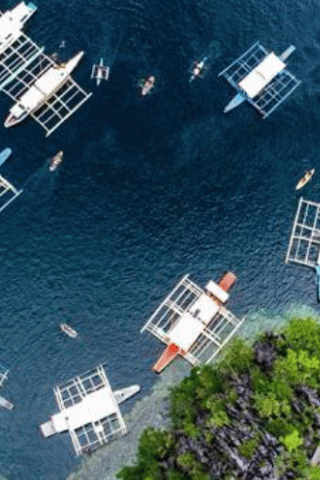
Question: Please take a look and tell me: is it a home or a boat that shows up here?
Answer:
boat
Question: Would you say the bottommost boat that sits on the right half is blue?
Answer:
No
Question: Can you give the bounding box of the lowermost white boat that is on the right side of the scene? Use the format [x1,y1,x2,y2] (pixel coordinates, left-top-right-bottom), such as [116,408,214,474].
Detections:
[141,272,245,373]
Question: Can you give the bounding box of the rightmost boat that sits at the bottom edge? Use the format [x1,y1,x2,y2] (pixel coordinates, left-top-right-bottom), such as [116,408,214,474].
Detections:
[39,363,140,458]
